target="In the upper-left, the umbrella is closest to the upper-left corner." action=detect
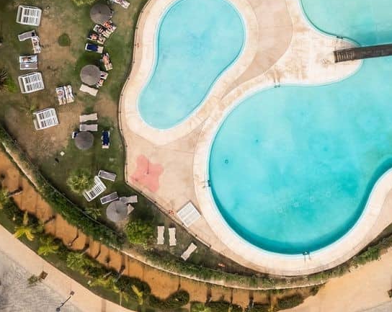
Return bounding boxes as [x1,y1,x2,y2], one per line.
[89,1,112,25]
